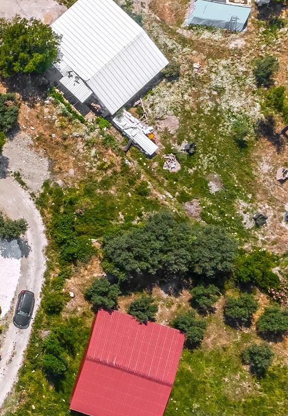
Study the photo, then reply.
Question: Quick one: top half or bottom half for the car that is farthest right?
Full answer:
Seen from above, the car that is farthest right lies in the bottom half of the view.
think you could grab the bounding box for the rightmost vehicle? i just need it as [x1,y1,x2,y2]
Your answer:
[11,290,34,328]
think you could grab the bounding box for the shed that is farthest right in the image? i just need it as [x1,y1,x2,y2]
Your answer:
[186,0,251,31]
